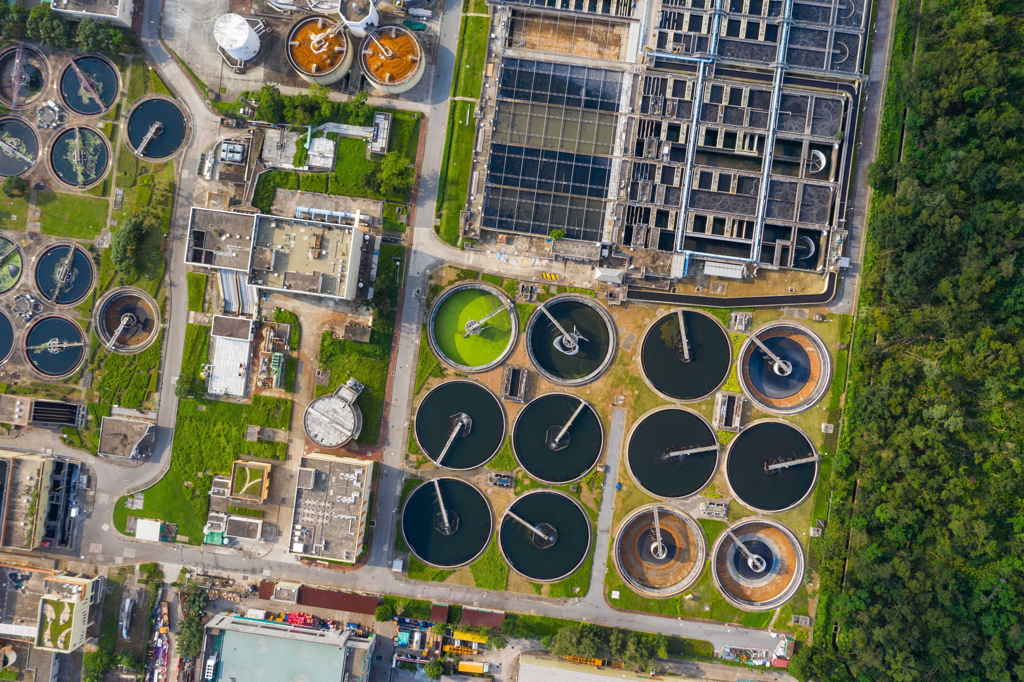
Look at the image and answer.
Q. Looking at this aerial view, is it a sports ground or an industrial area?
industrial area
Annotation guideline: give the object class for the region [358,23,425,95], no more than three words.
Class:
storage tank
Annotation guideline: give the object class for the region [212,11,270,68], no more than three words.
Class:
storage tank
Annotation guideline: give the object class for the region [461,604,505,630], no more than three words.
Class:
shed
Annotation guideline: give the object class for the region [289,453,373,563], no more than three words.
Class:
building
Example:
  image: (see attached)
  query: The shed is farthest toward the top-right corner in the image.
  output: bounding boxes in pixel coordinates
[703,261,744,278]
